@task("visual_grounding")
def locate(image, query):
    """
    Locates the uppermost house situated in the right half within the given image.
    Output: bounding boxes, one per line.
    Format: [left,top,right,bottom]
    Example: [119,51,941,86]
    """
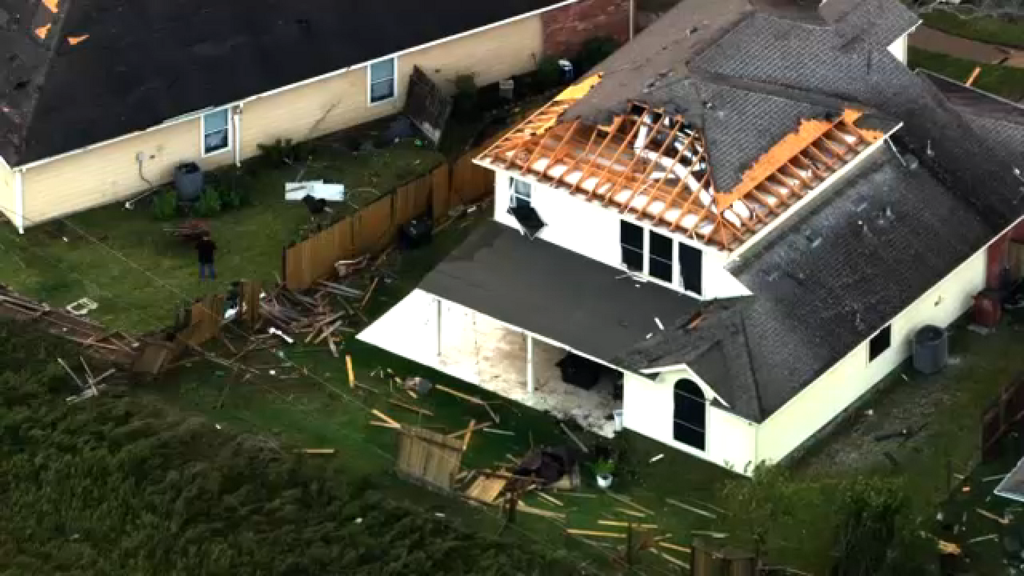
[416,0,1024,479]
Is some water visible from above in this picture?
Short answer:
No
